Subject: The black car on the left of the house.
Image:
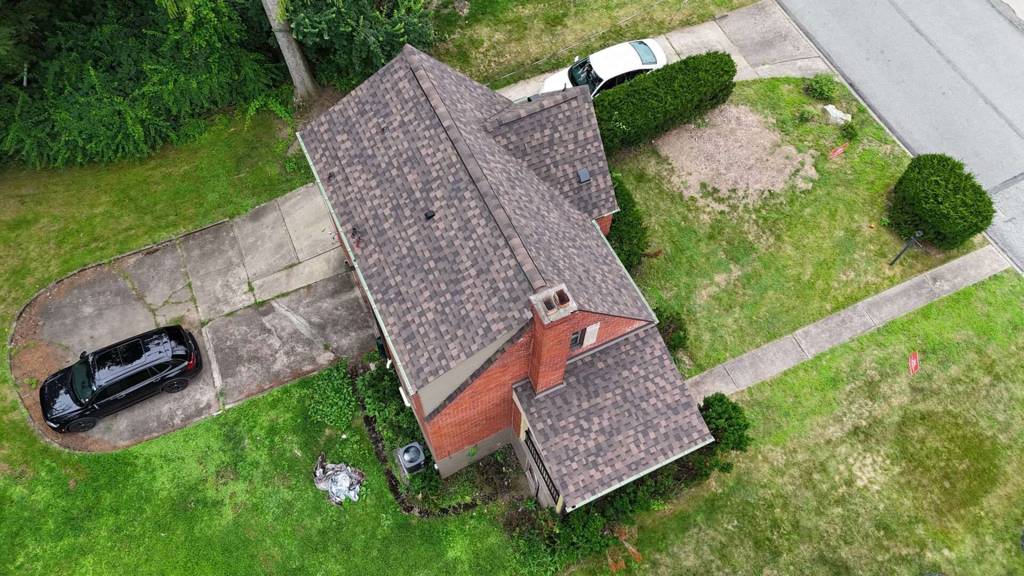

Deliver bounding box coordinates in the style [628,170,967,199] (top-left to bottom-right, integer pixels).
[38,322,204,432]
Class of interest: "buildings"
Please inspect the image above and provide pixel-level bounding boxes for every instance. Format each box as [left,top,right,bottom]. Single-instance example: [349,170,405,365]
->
[296,45,715,526]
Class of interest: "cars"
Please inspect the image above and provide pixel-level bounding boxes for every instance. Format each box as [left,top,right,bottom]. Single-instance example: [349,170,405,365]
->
[540,40,664,97]
[38,322,204,432]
